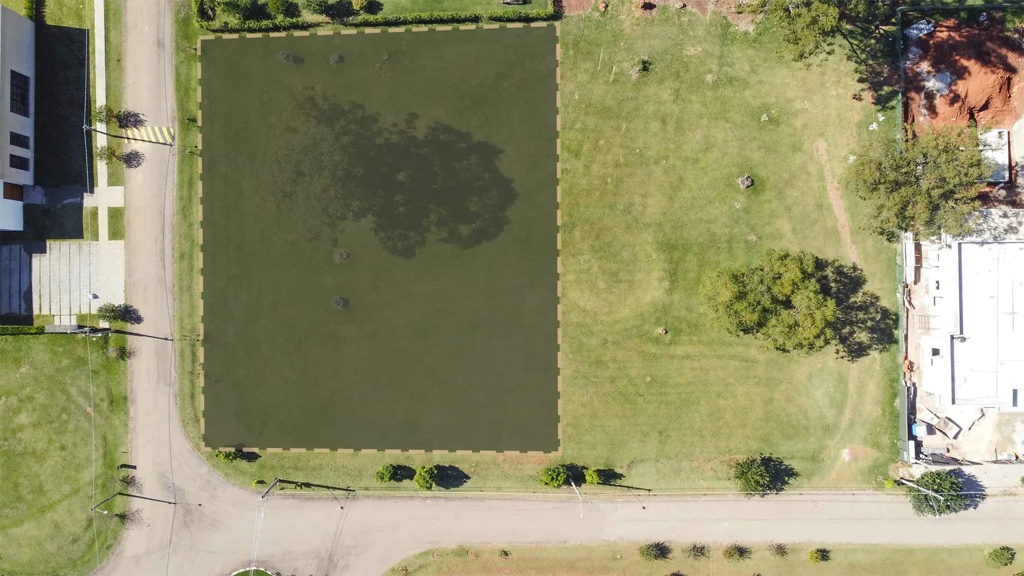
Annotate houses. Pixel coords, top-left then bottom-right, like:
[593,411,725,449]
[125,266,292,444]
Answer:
[0,4,35,230]
[918,212,1024,405]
